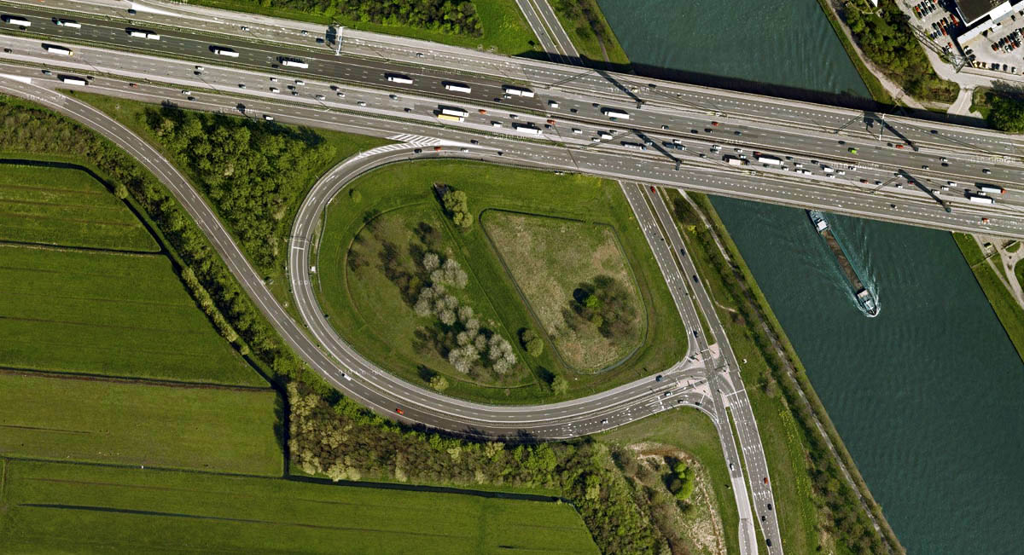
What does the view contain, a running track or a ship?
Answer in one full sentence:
The one in the frame is a ship.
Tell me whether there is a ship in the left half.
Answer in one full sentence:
No, the scene shows no ship in the left half.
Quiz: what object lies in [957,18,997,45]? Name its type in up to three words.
building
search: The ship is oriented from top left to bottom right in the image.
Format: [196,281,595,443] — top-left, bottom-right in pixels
[807,213,876,318]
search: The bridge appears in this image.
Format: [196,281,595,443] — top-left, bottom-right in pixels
[509,53,1024,243]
